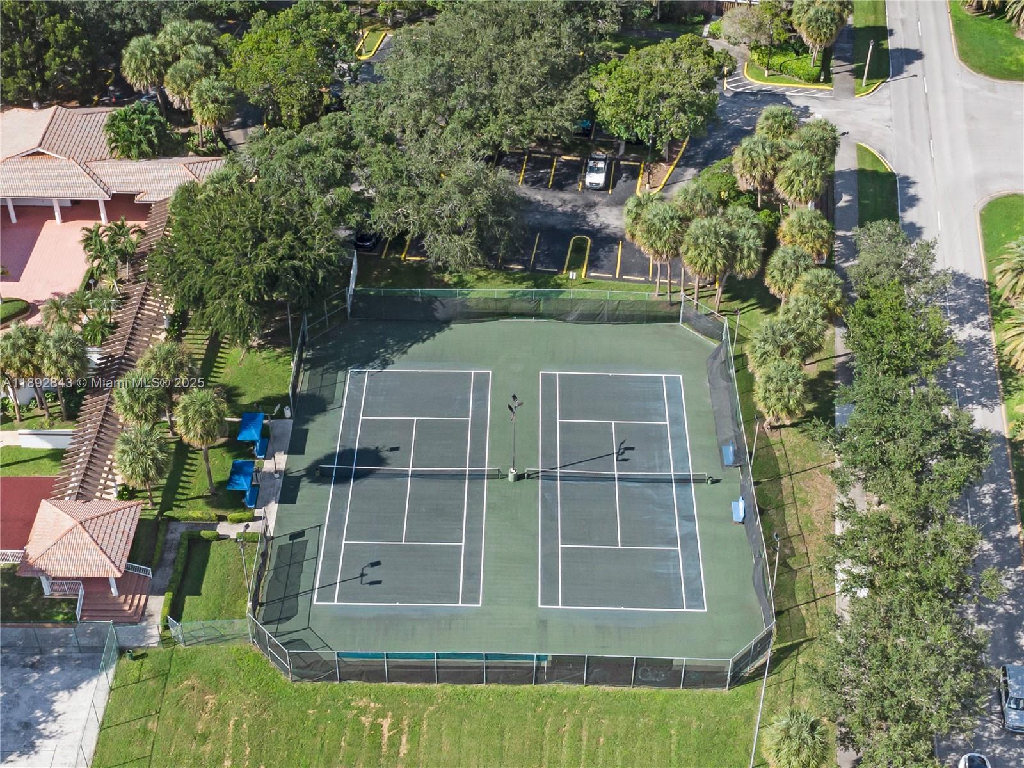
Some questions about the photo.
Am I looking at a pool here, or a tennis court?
tennis court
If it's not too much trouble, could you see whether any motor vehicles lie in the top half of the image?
Yes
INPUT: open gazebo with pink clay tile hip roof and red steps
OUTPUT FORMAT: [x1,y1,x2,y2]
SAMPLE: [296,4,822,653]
[13,498,150,617]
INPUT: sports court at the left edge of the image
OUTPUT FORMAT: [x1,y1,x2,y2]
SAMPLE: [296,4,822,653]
[0,617,120,768]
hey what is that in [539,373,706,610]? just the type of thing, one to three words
tennis court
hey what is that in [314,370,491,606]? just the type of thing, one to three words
tennis court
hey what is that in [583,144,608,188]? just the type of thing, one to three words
truck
